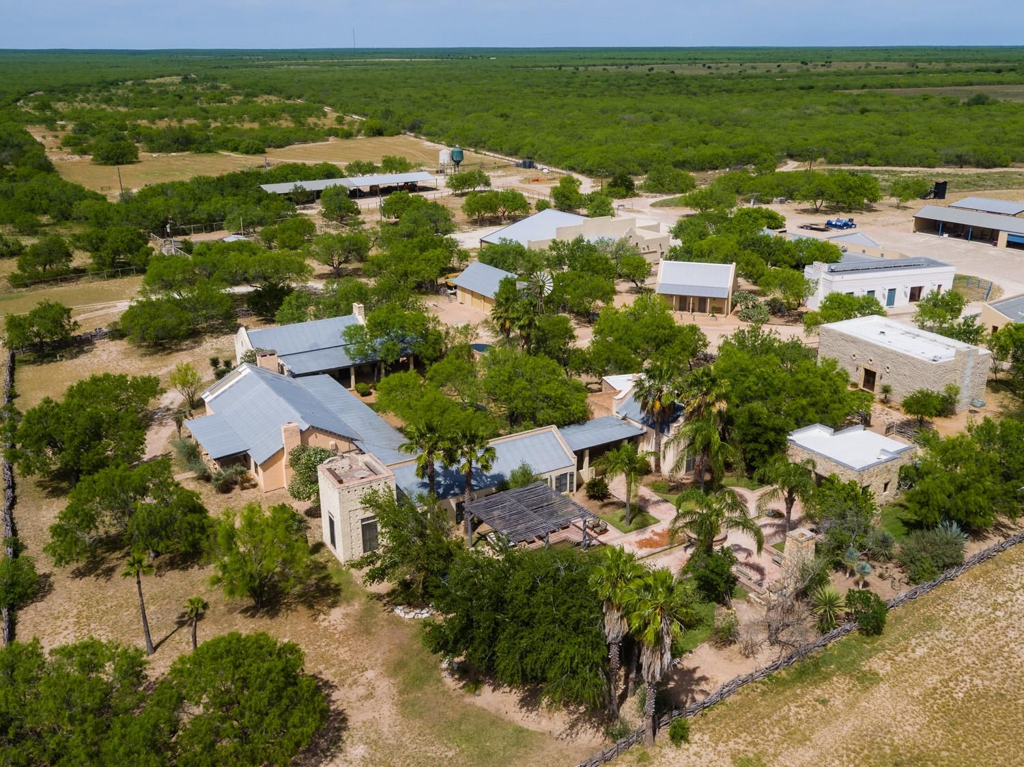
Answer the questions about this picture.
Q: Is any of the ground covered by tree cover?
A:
Yes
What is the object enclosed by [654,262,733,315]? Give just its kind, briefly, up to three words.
house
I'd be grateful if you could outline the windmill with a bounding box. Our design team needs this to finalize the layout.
[513,269,556,317]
